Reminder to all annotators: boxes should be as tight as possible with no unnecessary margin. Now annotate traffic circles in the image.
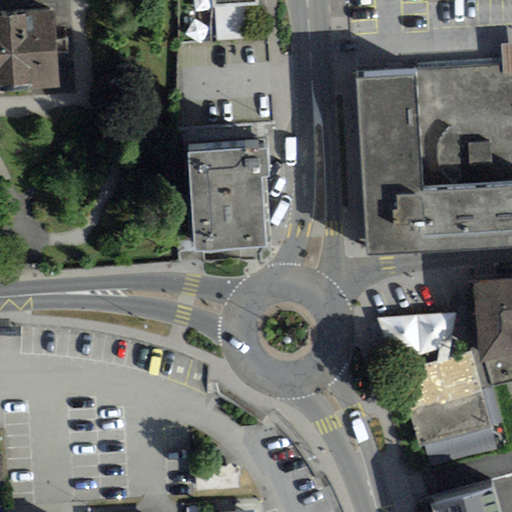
[220,263,356,398]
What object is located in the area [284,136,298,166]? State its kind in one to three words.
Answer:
vehicle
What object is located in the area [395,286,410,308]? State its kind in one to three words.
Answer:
car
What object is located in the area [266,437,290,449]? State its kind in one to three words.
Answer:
vehicle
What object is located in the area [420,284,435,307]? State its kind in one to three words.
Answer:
car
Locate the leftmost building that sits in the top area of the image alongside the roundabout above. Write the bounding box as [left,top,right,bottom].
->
[188,133,274,252]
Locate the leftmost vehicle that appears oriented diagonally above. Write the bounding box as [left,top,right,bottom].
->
[229,336,252,354]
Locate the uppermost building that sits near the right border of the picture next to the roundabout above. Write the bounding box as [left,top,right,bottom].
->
[358,56,512,254]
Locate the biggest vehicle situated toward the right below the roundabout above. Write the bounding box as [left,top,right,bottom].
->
[348,410,368,444]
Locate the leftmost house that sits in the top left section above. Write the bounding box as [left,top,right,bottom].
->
[0,10,70,92]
